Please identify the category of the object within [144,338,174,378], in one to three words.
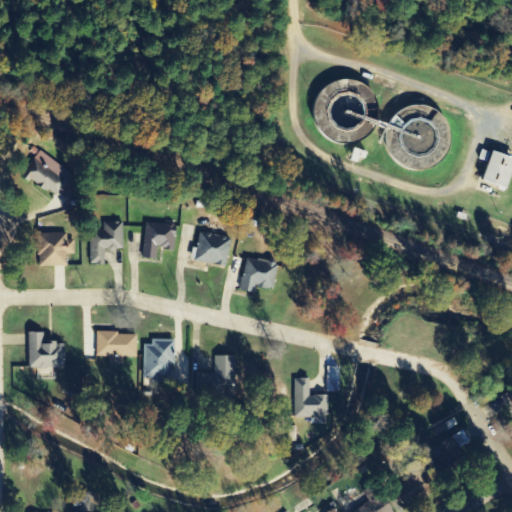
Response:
house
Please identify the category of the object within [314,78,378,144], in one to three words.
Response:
storage tank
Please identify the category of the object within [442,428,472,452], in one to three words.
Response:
house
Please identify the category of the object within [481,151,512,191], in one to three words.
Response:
building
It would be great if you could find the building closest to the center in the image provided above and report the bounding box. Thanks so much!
[240,258,276,290]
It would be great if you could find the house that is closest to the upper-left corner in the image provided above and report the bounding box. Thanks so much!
[30,152,64,196]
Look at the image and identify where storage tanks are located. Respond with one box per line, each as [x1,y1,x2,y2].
[314,78,378,144]
[384,104,451,170]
